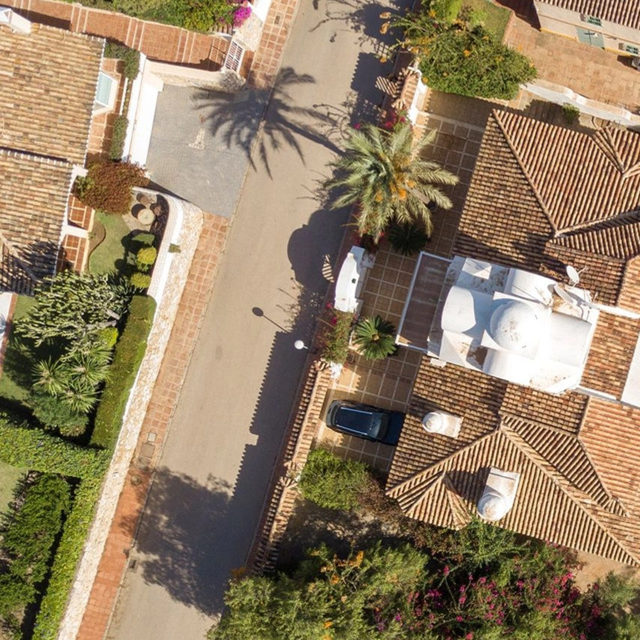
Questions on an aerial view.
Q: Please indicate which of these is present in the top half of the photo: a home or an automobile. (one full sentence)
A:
Visible in the top half of the photo is a home.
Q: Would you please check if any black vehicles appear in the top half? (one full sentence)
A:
No, the scene shows no black vehicle in the top half.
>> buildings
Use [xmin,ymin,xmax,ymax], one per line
[537,0,640,59]
[384,109,640,567]
[0,5,131,294]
